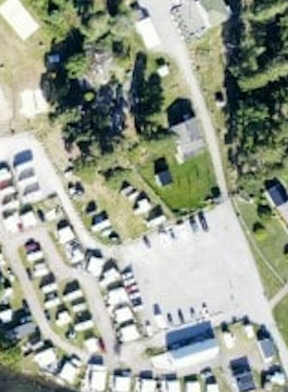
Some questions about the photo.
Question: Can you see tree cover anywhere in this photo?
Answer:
Yes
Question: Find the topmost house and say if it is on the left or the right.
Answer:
right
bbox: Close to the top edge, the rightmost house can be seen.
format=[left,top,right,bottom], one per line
[189,0,230,27]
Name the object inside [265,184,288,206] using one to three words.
shed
